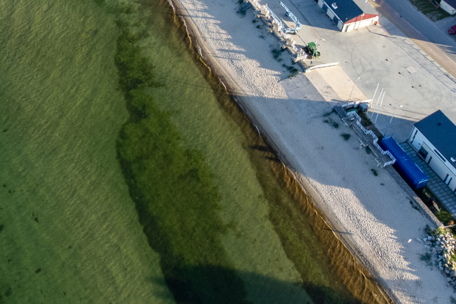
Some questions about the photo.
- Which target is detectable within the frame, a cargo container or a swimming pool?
cargo container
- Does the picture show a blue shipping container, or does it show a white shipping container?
blue shipping container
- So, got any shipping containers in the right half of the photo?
Yes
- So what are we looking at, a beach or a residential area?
beach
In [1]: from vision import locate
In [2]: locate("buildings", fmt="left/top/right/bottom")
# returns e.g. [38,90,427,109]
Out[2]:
[438,0,456,15]
[409,110,456,190]
[317,0,379,30]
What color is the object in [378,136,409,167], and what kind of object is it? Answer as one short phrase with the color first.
blue shipping container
